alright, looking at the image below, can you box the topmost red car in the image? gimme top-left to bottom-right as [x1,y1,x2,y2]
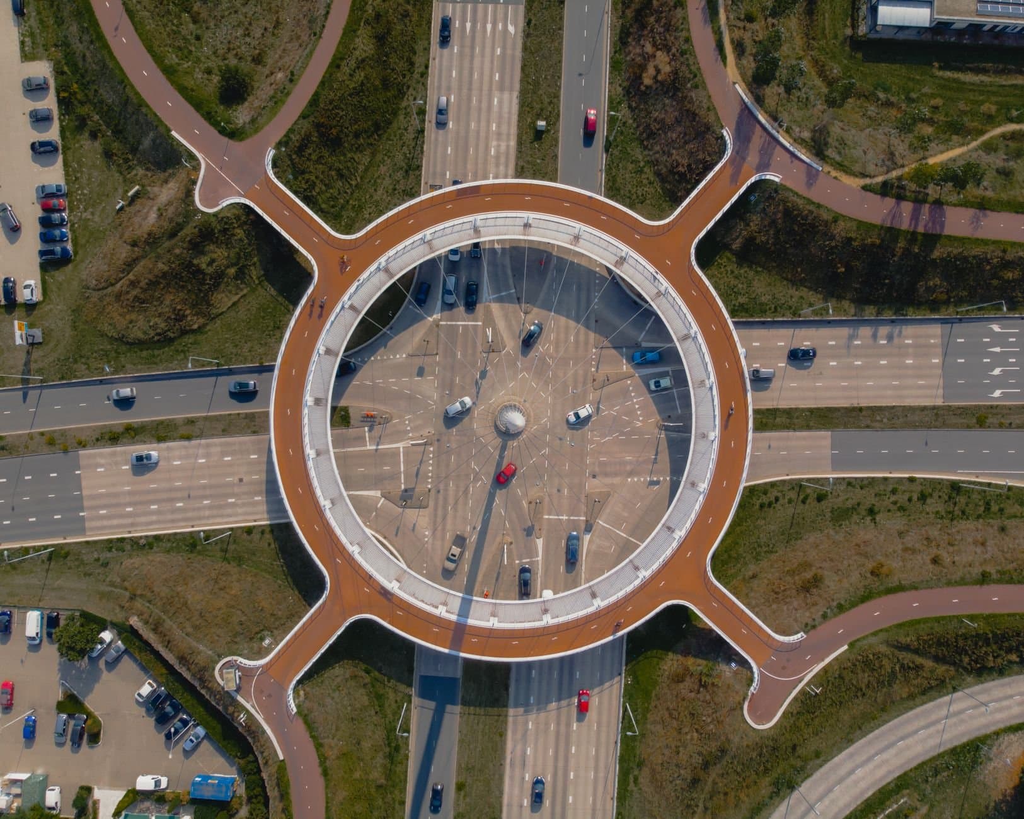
[583,105,598,135]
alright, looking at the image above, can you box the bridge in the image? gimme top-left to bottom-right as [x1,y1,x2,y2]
[224,128,805,715]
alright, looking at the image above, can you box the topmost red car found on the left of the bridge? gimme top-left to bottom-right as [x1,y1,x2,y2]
[37,196,66,211]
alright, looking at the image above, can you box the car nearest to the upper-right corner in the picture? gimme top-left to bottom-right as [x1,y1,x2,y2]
[788,346,818,360]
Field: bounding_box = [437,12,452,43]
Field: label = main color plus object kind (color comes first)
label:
black car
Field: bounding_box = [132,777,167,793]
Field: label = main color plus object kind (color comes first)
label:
white vehicle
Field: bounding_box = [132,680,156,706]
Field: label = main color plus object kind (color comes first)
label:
white car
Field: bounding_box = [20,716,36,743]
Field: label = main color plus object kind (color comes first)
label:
blue car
